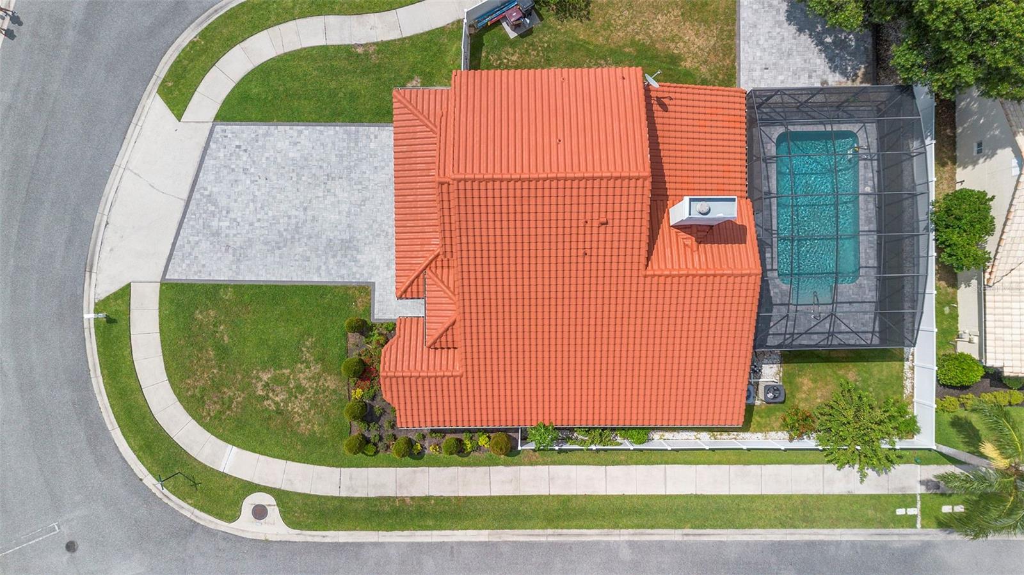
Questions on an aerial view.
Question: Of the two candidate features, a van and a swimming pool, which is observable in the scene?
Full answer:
Looking from above, you can make out a swimming pool.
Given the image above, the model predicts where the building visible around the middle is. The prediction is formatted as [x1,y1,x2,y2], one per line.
[379,65,765,429]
